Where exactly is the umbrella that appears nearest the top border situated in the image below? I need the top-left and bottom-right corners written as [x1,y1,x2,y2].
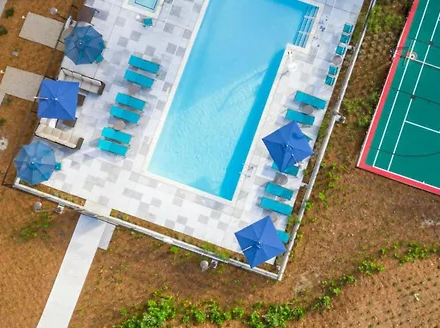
[66,26,105,65]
